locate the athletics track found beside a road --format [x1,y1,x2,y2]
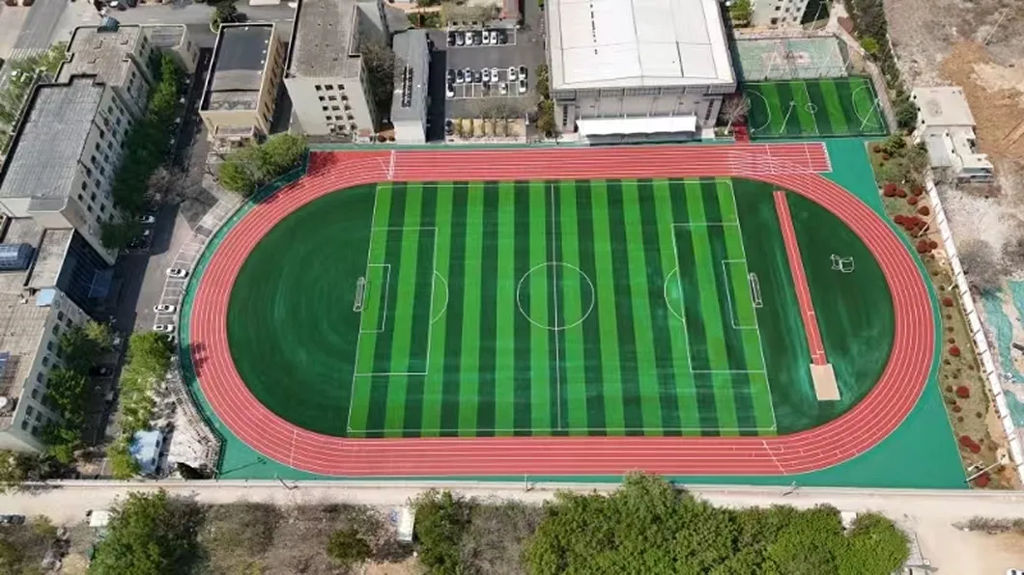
[178,136,968,485]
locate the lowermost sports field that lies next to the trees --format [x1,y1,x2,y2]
[228,176,894,438]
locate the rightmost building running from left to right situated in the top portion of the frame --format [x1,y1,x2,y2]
[746,0,810,29]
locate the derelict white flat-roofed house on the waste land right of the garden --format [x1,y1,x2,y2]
[908,87,994,182]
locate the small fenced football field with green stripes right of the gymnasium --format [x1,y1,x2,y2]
[741,78,888,136]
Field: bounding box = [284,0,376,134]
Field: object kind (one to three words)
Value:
building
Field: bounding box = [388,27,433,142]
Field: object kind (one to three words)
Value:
building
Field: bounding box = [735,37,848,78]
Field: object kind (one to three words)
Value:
sports court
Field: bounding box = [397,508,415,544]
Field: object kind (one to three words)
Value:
shed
